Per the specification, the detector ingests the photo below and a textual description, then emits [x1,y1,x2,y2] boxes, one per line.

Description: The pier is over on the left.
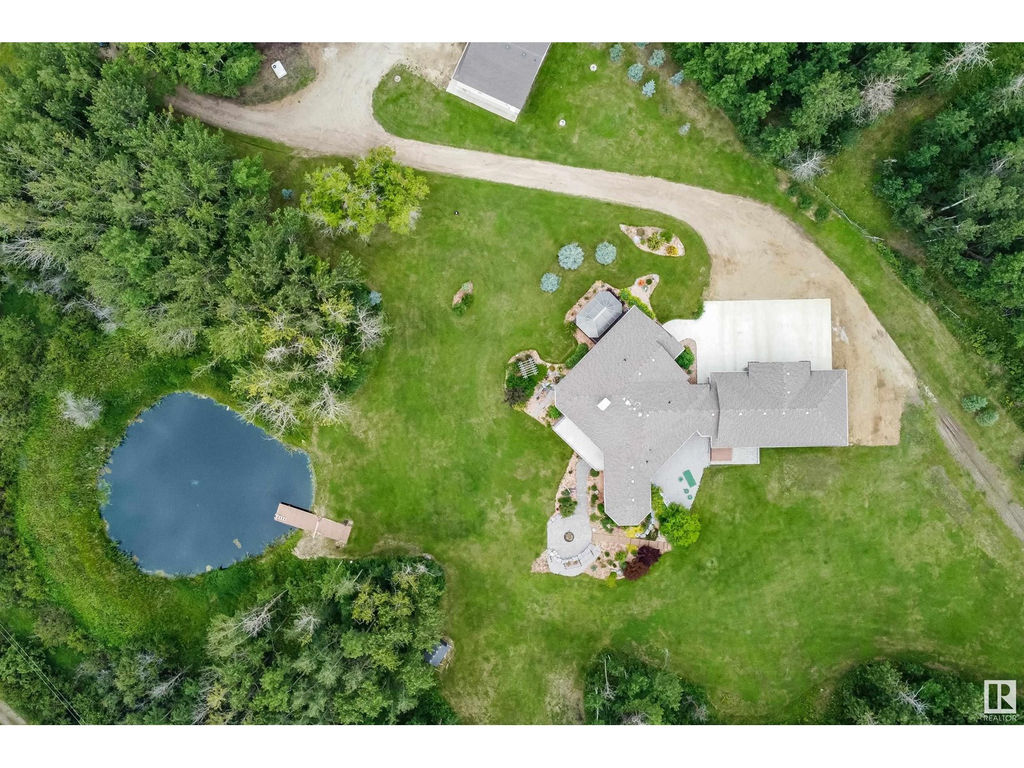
[274,501,351,544]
